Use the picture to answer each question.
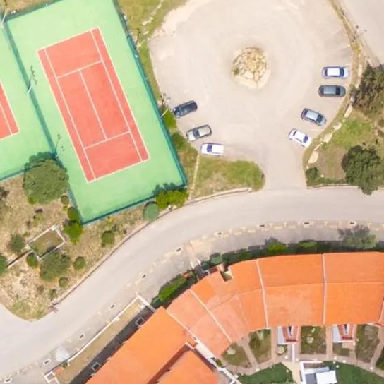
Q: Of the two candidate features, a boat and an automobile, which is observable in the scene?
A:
automobile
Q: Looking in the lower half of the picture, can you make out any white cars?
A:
No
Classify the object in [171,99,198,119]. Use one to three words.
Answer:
car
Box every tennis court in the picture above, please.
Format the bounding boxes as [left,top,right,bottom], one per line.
[0,0,59,177]
[9,0,192,223]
